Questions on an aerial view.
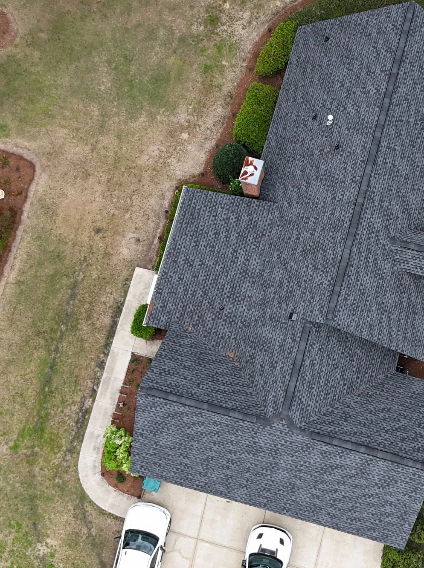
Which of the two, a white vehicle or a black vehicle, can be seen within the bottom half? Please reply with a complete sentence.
What appears within the bottom half is a white vehicle.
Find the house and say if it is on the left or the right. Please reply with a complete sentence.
The house appears in the right half of the scene.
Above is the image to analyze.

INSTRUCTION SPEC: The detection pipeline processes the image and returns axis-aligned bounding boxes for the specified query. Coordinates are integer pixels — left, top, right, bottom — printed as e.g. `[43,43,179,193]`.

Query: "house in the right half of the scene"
[130,0,424,548]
